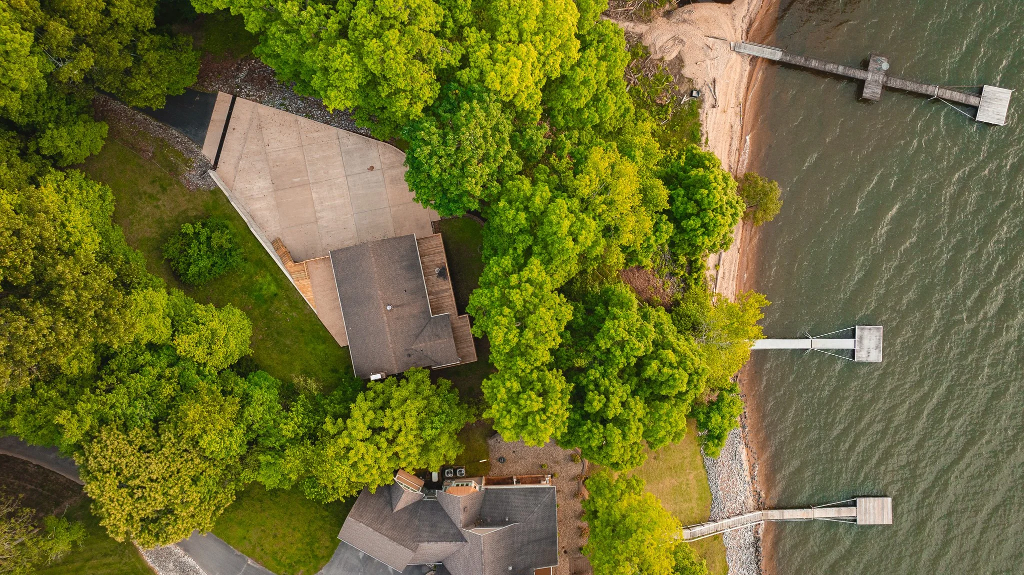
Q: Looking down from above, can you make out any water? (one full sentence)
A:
Yes, there is water in the image.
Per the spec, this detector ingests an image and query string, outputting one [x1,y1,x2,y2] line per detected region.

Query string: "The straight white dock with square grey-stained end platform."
[737,325,884,362]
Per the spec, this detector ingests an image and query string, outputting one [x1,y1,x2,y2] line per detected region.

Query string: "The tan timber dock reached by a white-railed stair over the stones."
[675,497,893,542]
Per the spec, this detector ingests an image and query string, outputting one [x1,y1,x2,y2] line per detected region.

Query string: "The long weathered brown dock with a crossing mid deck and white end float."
[730,42,1020,127]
